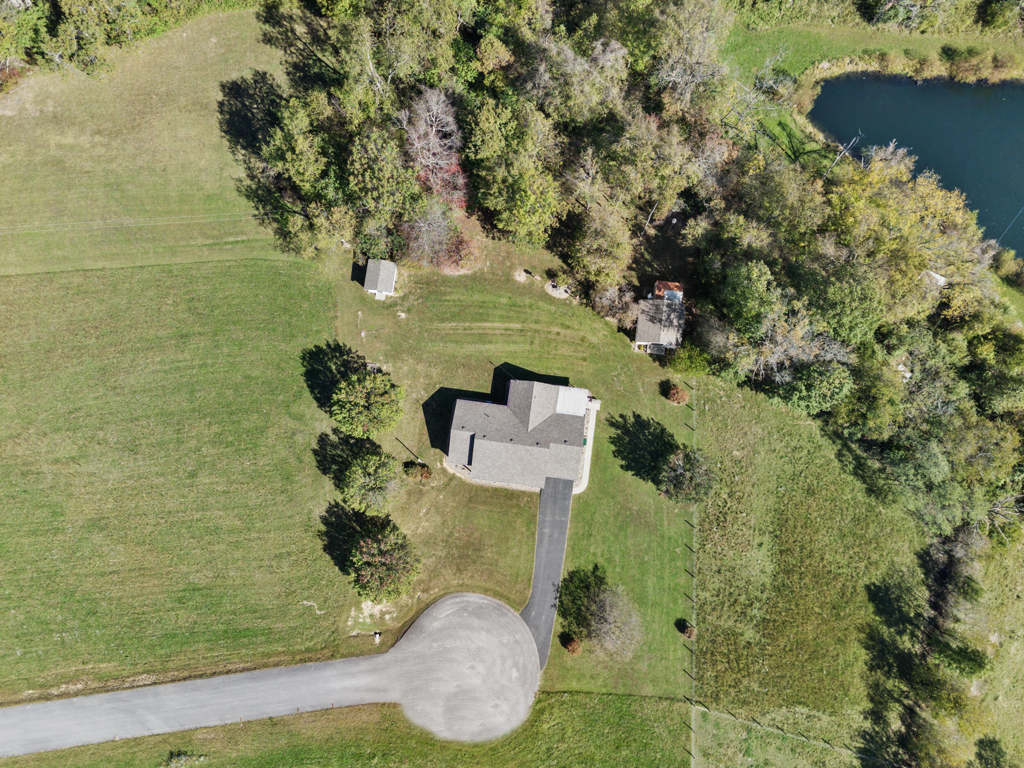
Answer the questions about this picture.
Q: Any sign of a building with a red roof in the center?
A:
No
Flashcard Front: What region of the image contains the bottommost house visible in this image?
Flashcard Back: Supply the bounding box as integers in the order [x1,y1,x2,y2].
[447,379,588,488]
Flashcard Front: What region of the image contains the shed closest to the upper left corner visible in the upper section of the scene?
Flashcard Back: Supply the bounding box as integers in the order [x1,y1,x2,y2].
[364,259,398,301]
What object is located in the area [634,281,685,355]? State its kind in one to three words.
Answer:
building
